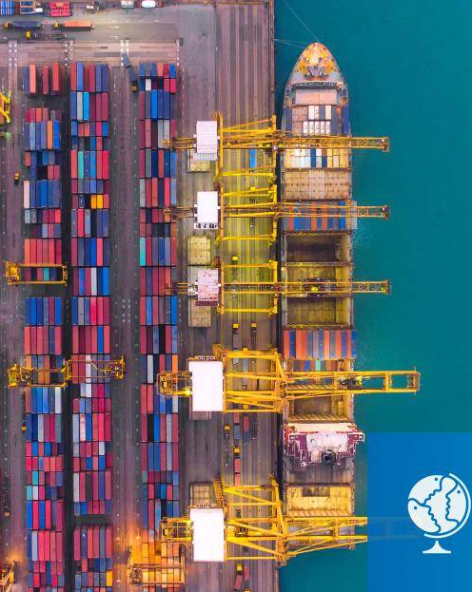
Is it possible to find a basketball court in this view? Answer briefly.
No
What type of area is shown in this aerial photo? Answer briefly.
port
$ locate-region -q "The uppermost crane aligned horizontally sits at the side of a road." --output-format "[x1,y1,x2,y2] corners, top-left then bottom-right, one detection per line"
[156,114,389,182]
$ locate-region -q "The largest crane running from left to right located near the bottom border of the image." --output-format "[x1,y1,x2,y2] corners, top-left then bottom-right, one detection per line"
[156,479,424,569]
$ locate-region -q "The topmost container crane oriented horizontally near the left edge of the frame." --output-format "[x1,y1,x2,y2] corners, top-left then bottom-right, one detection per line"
[6,262,73,289]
